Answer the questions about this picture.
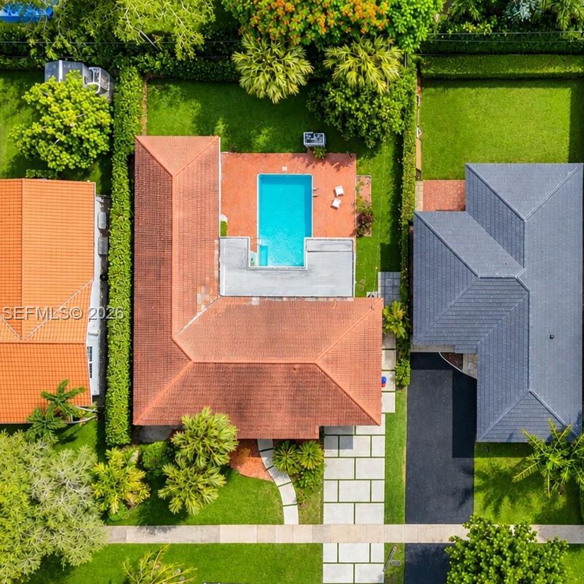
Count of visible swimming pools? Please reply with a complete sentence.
The picture shows 1 swimming pool.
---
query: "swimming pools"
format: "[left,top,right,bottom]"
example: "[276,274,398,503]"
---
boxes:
[251,173,320,268]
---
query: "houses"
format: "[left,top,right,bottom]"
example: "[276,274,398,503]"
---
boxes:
[0,179,104,423]
[133,135,383,439]
[413,163,584,442]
